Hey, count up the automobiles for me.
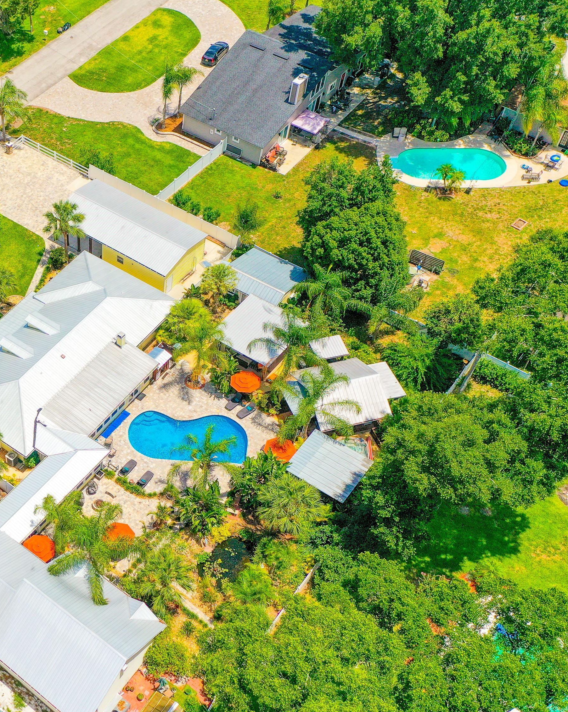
one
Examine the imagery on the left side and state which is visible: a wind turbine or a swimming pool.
swimming pool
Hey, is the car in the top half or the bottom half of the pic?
top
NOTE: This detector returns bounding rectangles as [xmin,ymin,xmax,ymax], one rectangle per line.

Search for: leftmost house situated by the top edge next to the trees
[179,11,364,165]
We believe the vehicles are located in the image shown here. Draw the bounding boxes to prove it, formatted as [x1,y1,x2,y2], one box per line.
[203,41,229,66]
